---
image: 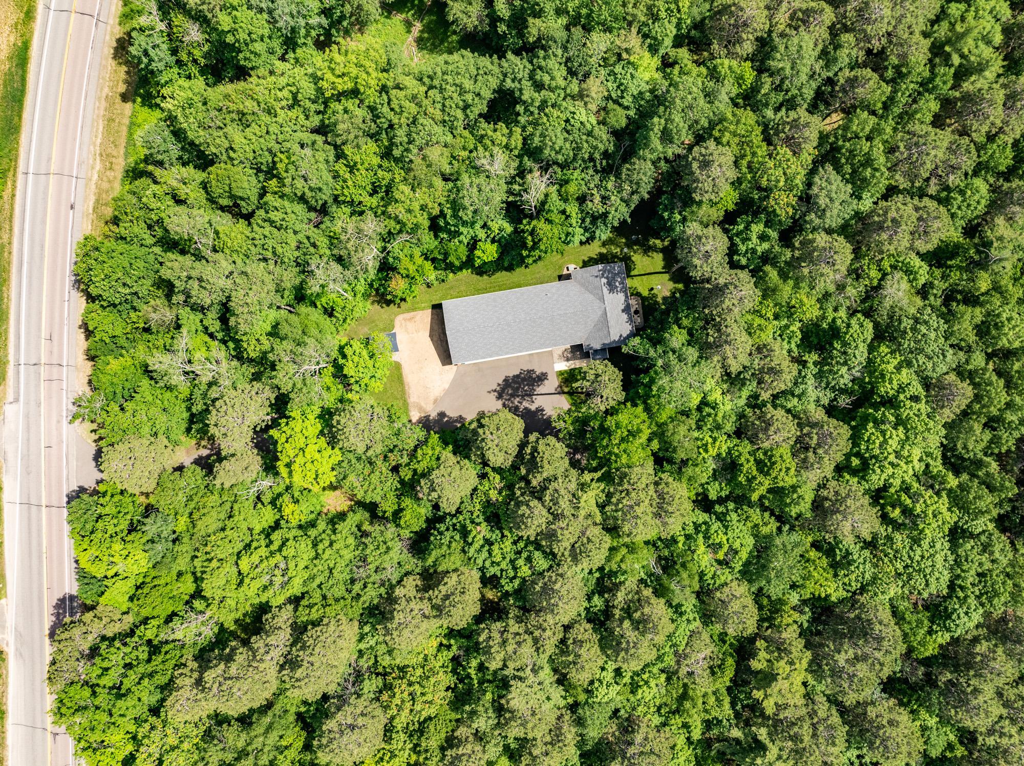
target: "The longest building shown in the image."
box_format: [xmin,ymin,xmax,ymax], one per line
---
[441,262,637,365]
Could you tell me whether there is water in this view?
No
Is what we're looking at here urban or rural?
rural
